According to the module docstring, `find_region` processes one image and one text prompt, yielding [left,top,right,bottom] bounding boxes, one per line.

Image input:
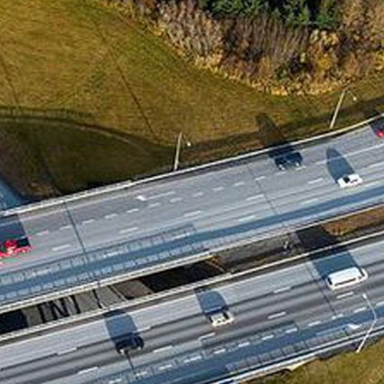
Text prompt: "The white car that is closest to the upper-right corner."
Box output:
[336,172,362,188]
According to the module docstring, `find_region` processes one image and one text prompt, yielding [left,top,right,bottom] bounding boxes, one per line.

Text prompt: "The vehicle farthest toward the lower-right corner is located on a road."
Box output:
[327,266,365,288]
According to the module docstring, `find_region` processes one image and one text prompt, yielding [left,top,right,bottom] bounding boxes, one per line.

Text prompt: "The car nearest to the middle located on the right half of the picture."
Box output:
[274,152,303,170]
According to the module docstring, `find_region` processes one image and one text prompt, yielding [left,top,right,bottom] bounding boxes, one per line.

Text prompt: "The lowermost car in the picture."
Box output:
[111,333,145,353]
